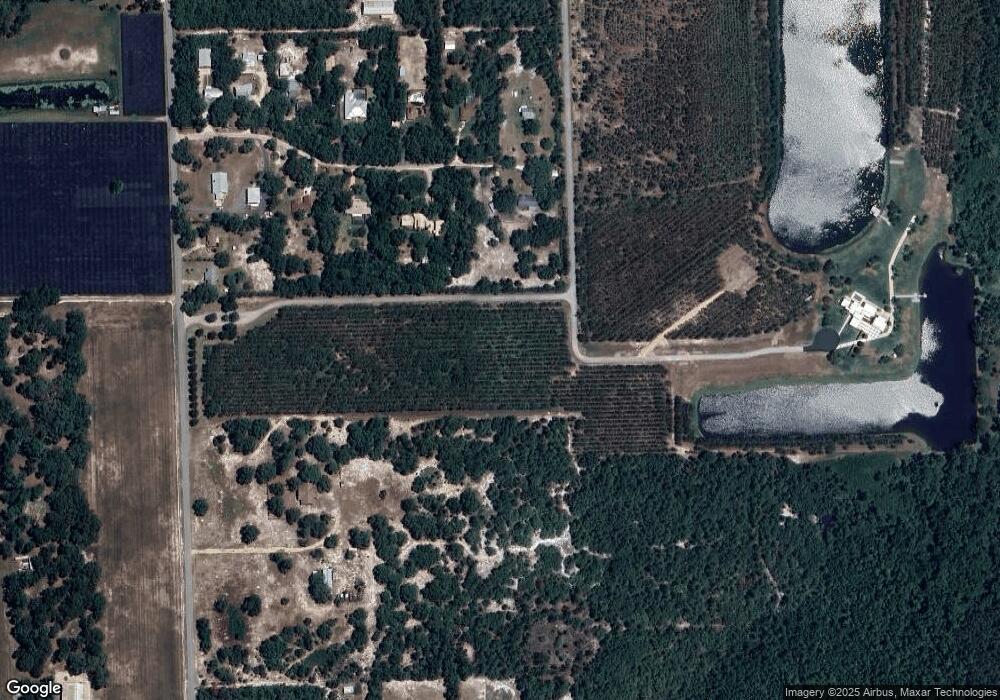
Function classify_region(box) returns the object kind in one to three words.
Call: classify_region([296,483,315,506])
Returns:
house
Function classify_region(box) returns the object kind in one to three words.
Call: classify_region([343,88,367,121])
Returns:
house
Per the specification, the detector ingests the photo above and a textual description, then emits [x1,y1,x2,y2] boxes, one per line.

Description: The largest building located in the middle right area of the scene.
[837,291,893,338]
